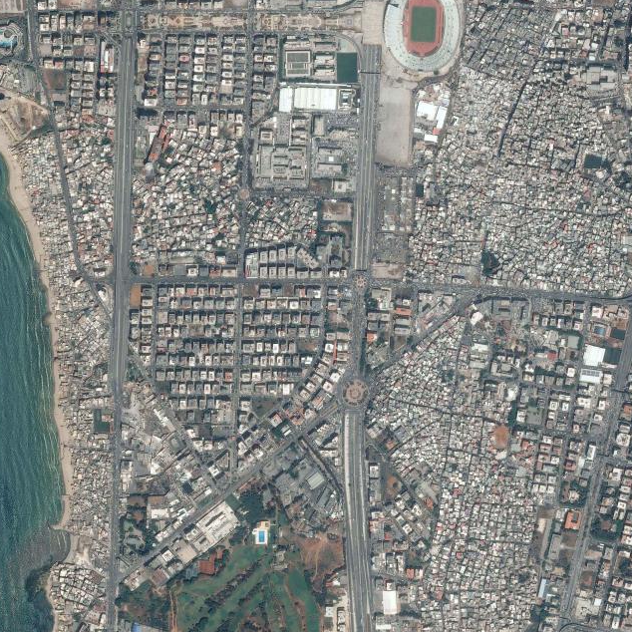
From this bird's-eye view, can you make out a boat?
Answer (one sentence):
No, there is no boat in the image.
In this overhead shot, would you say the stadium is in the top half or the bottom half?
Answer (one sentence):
You can find the stadium in the top half.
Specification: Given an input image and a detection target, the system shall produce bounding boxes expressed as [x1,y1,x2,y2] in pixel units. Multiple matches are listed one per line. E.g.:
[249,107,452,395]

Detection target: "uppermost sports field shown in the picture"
[411,6,436,41]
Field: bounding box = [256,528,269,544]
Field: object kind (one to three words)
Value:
swimming pool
